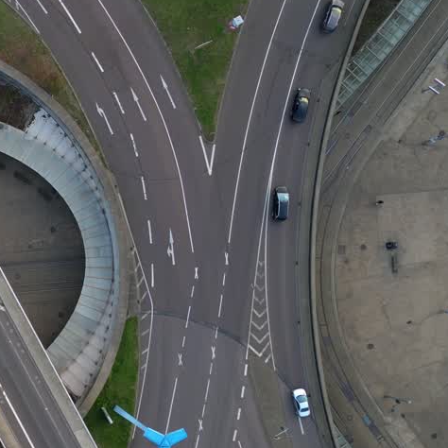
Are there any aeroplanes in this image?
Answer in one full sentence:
No, no aeroplane can be seen from above.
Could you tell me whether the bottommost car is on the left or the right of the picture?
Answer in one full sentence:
The bottommost car sits on the right side.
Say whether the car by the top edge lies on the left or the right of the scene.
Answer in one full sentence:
The car by the top edge appears in the right half of the scene.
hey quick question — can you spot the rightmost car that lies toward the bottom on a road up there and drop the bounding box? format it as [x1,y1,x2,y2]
[290,388,311,418]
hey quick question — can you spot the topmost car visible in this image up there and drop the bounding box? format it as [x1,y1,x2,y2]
[319,0,343,32]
